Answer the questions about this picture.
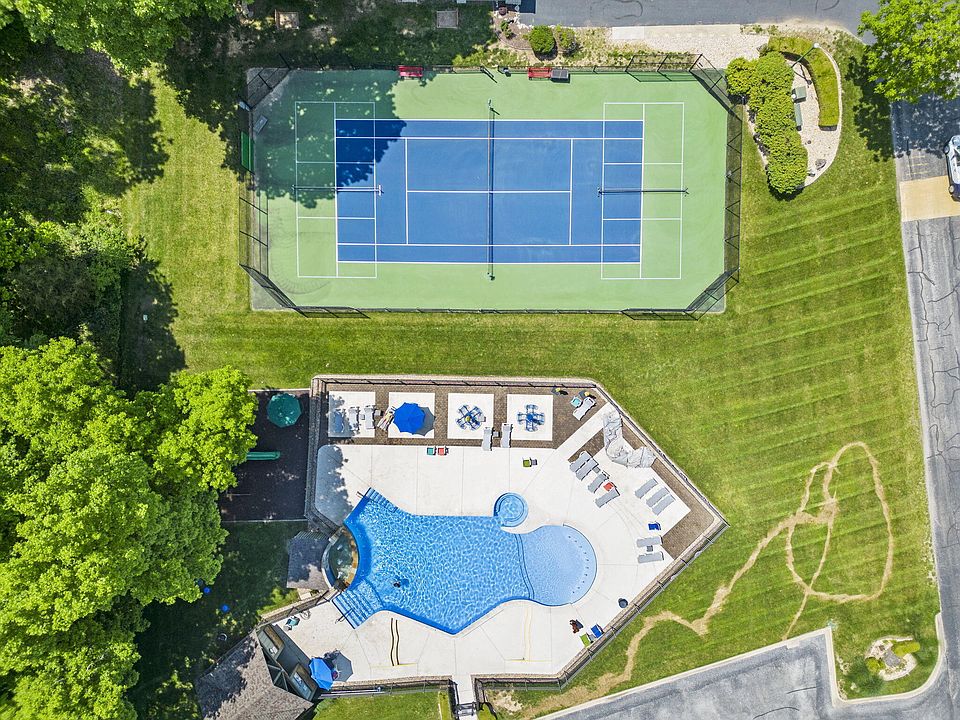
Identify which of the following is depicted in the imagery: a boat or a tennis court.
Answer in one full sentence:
Of the two, only a tennis court appears.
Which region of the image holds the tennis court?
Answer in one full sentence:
The tennis court is in the top part of the image.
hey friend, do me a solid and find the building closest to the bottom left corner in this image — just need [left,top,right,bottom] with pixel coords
[194,621,322,720]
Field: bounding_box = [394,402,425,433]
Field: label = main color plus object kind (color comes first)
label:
blue umbrella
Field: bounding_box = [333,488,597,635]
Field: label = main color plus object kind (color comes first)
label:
blue swimming pool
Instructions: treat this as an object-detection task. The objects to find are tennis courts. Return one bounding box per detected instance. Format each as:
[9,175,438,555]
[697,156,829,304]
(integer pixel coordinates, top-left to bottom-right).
[248,68,728,312]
